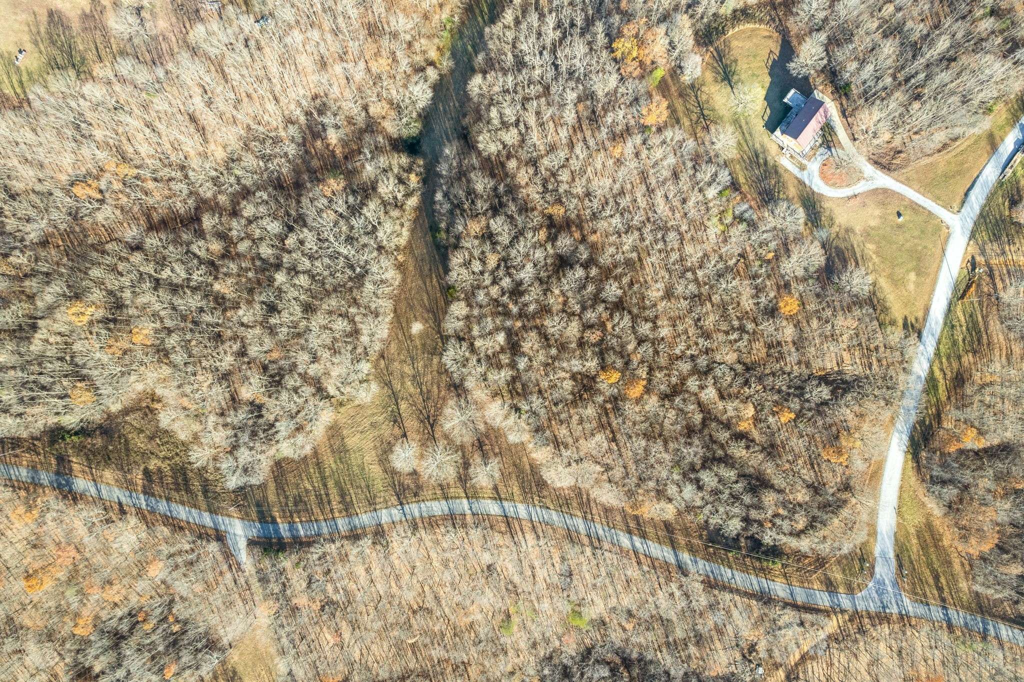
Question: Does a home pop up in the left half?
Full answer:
No, in the left half there is no home.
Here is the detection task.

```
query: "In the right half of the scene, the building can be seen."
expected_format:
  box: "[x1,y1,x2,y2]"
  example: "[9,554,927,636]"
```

[764,86,830,167]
